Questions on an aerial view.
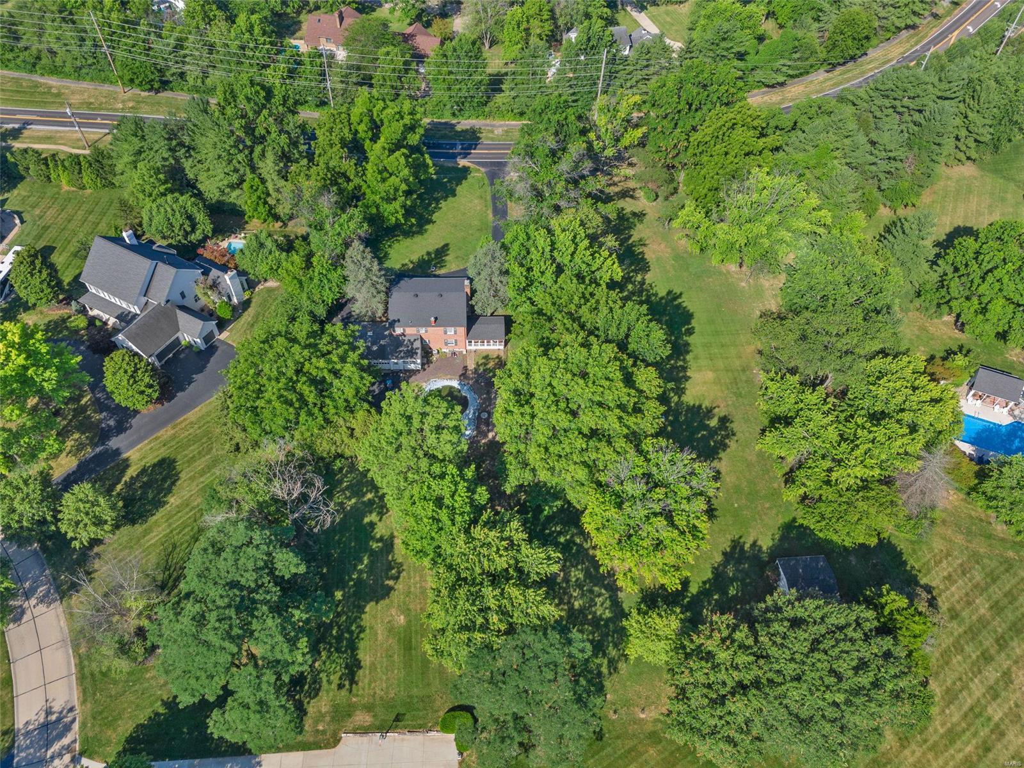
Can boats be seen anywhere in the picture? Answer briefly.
No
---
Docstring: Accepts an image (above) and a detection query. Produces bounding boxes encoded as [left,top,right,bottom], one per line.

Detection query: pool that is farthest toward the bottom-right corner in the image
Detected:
[949,396,1024,480]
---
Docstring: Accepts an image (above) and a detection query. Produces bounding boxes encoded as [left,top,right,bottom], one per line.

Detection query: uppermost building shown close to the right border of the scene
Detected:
[962,363,1024,426]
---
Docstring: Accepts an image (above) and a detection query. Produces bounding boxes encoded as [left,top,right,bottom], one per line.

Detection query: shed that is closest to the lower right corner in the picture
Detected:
[769,556,840,601]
